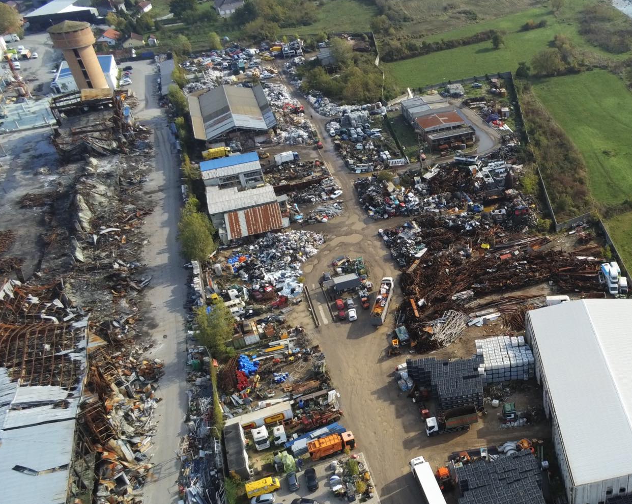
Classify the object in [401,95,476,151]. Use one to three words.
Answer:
building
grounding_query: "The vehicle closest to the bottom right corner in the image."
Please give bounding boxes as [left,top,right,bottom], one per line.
[503,403,515,424]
